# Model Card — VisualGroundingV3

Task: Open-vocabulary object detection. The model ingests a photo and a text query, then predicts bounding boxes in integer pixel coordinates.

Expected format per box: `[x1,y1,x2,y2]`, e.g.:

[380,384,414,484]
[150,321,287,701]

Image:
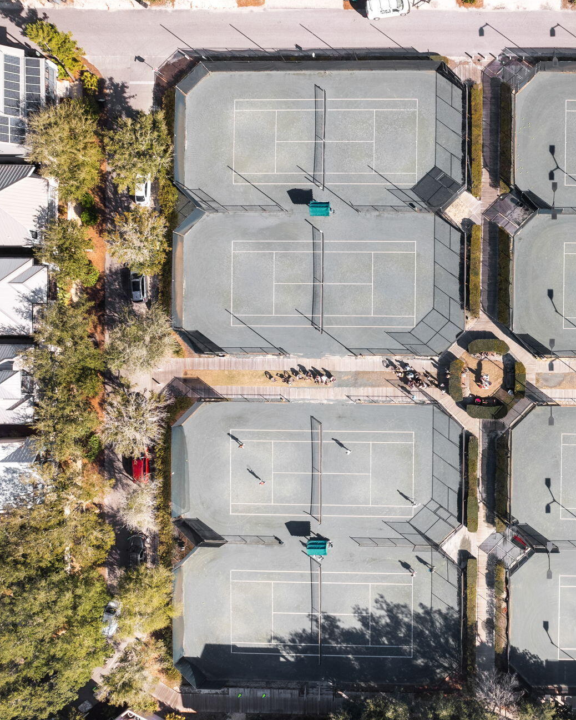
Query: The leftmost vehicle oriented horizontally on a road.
[366,0,408,18]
